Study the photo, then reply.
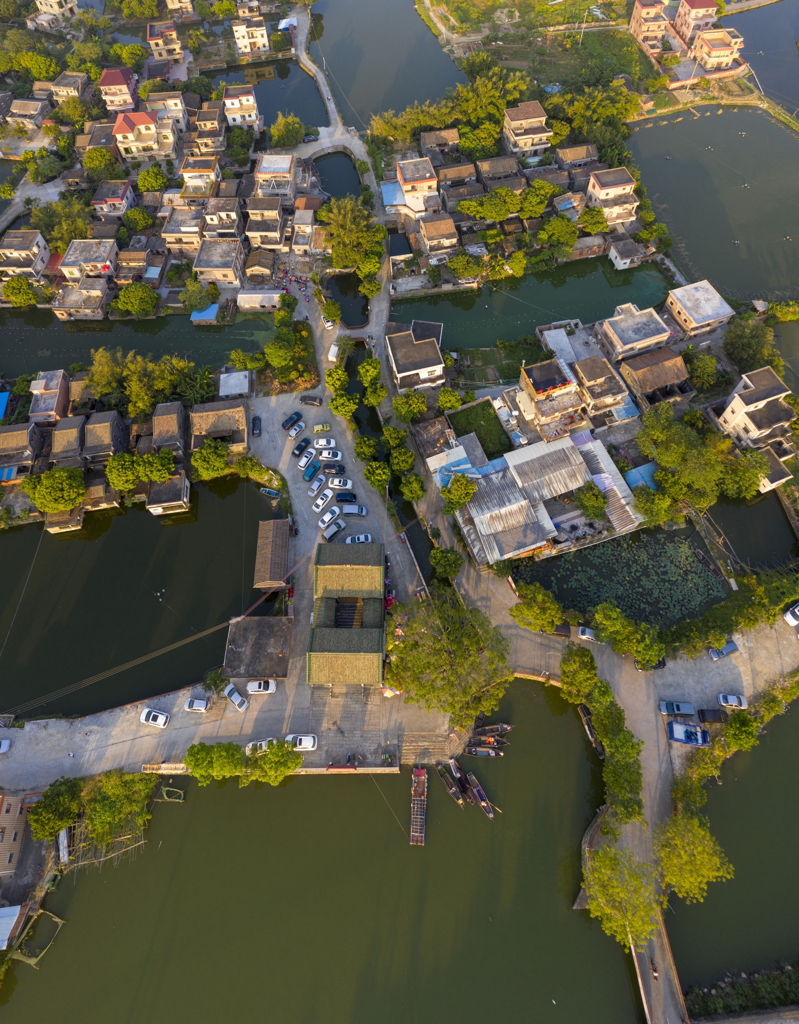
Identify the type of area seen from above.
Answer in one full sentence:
This image shows a residential area.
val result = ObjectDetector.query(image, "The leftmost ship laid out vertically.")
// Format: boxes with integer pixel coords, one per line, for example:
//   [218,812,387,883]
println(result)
[409,761,428,845]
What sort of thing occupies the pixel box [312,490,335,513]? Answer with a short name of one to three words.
car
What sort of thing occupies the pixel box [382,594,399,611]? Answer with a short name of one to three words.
umbrella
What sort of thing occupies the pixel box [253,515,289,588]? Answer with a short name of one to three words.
house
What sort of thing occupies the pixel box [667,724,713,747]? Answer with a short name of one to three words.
truck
